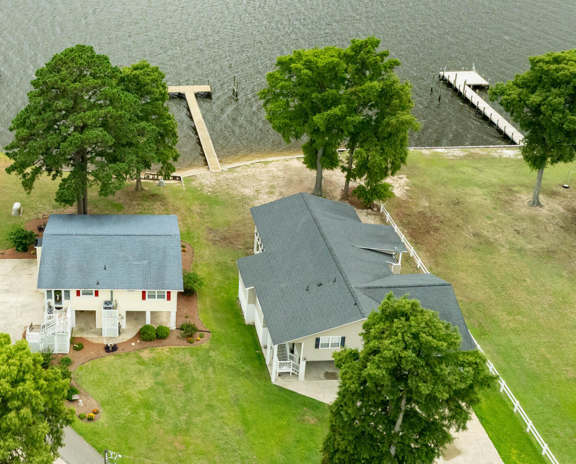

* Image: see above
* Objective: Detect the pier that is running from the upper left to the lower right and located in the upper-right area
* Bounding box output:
[430,62,524,145]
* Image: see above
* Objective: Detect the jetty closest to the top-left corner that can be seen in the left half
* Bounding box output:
[168,79,220,171]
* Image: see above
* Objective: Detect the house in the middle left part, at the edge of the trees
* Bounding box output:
[36,215,184,328]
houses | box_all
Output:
[236,192,477,390]
[36,215,184,328]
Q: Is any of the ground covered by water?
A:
Yes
